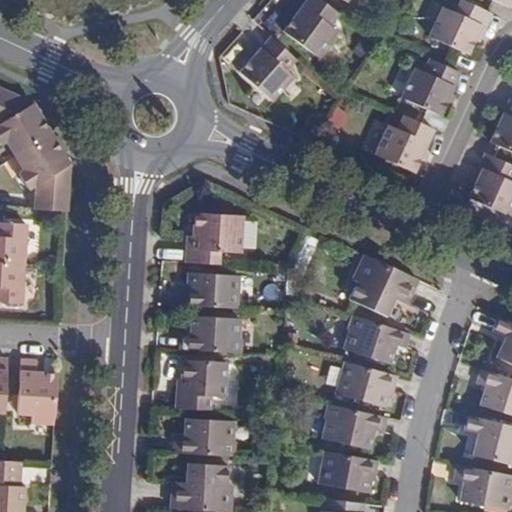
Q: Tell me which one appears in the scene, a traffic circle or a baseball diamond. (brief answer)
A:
traffic circle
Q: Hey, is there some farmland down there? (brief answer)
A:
No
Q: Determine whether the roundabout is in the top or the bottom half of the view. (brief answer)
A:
top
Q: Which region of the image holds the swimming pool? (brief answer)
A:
center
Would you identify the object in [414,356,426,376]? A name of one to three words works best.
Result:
vehicle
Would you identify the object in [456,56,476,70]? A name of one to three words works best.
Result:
car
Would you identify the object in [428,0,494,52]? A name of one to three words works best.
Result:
house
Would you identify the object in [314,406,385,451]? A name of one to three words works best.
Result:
house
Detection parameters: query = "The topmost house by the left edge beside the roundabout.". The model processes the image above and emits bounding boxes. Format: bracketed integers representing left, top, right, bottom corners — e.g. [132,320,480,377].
[0,103,71,211]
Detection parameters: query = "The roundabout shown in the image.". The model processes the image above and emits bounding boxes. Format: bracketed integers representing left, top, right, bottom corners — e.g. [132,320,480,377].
[107,63,206,167]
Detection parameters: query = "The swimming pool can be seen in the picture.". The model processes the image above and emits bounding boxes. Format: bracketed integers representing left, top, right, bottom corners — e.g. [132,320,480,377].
[258,282,282,302]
